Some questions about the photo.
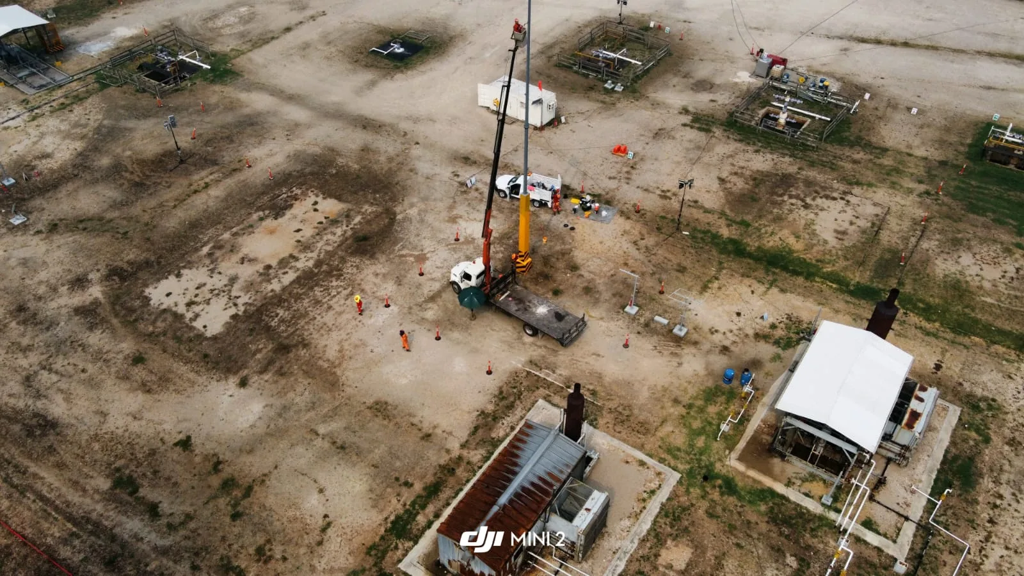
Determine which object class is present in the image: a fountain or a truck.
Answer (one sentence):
The one in the frame is a truck.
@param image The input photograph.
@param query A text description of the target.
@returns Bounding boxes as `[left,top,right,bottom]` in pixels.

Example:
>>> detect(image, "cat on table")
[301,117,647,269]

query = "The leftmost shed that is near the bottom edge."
[437,418,592,576]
